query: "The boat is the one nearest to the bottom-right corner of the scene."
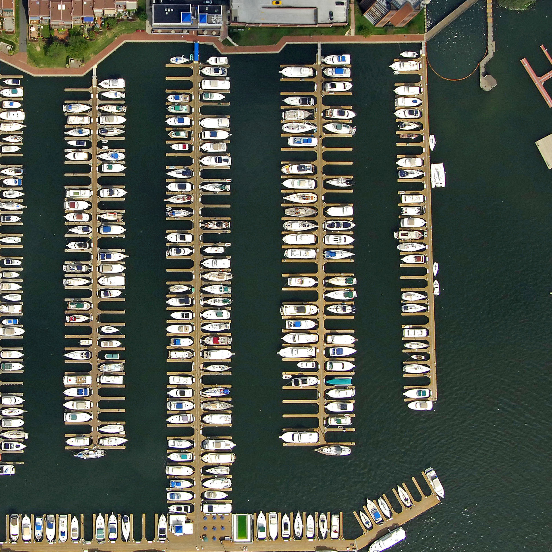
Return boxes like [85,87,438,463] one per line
[425,469,445,500]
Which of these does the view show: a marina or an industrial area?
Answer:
marina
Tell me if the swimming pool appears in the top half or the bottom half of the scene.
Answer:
bottom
